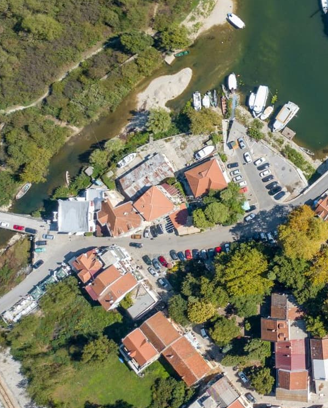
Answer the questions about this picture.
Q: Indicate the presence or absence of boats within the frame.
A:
Yes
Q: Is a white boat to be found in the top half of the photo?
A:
Yes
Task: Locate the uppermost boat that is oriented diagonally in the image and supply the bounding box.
[225,11,243,27]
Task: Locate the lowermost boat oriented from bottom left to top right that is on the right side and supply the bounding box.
[193,146,213,161]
